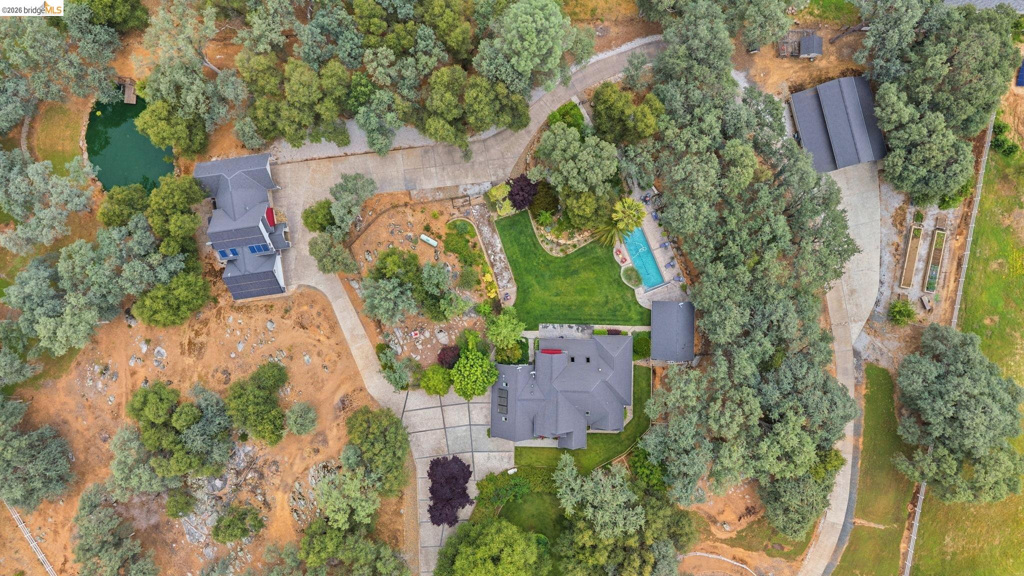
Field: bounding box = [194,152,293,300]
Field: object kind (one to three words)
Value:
house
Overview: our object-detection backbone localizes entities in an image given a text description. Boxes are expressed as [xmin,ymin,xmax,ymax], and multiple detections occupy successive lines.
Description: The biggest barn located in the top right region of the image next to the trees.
[787,76,887,174]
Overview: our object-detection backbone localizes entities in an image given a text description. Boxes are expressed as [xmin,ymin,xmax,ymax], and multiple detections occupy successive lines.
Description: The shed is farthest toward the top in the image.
[796,35,822,58]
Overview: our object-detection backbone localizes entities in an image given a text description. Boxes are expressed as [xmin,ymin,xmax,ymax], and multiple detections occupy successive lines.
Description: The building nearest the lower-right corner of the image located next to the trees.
[650,301,695,361]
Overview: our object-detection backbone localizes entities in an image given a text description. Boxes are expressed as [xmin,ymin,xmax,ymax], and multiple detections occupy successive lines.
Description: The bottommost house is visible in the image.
[490,335,632,449]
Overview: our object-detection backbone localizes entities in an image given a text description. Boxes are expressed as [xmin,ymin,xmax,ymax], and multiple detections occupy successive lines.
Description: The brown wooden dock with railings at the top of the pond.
[118,77,140,105]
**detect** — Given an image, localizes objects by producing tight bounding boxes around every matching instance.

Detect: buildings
[490,335,632,449]
[650,301,695,361]
[787,76,887,174]
[796,35,822,58]
[194,152,293,300]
